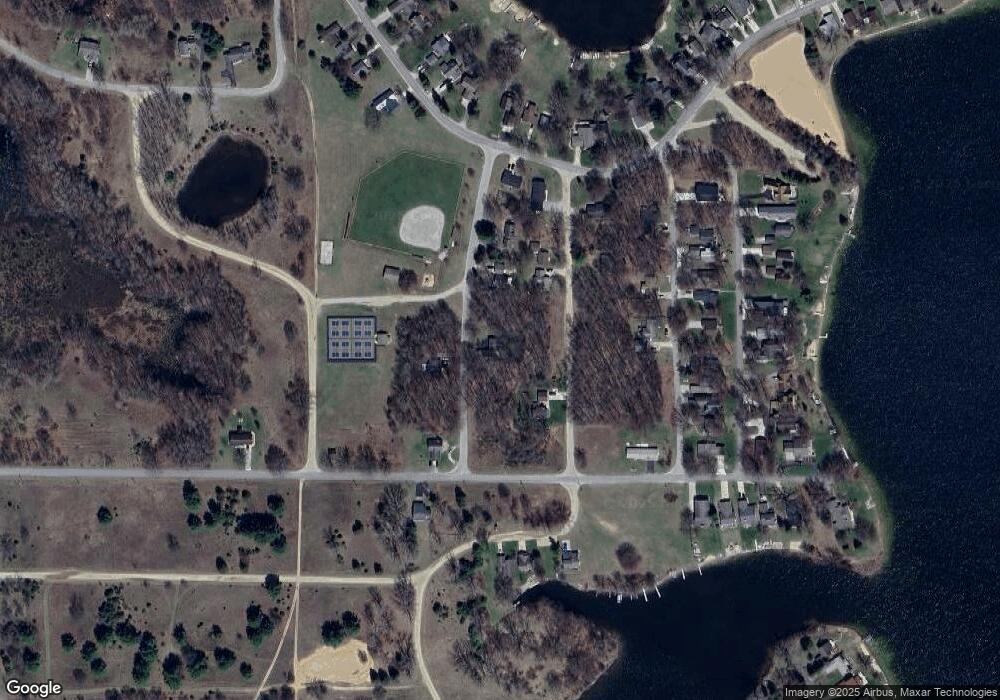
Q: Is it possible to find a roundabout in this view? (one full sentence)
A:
No, there appears to be no roundabout in this shot.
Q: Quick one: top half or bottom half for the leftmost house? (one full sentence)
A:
The leftmost house sits in the top half of the picture.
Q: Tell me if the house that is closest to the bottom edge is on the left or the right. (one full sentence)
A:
The house that is closest to the bottom edge sits on the right side.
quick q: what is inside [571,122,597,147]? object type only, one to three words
house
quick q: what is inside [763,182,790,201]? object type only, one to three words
house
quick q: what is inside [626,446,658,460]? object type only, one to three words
shed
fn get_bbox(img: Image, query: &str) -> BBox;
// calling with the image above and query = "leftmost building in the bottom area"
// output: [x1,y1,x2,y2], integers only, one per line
[229,432,252,445]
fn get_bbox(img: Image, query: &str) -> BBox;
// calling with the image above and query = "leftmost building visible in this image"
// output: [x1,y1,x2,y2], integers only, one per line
[78,41,99,62]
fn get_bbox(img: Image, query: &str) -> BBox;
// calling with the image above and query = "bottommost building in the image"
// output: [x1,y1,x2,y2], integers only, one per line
[836,671,862,694]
